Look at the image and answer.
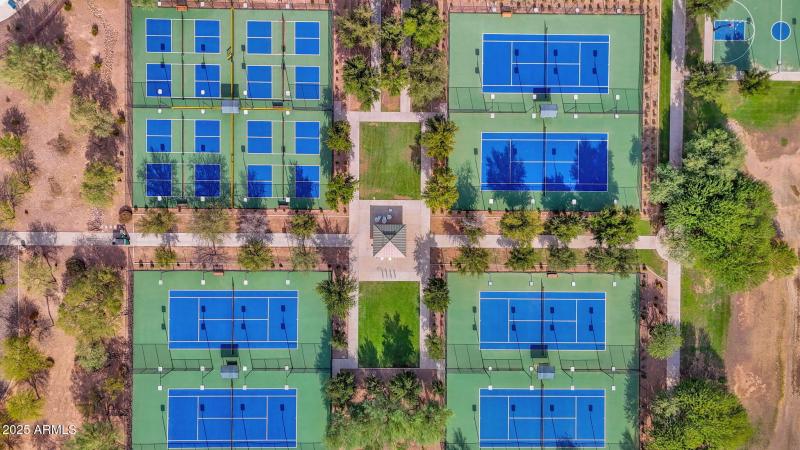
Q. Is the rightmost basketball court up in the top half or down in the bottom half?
top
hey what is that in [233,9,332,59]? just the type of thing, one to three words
sports court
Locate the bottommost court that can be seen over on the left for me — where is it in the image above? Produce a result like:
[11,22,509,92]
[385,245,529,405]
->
[133,369,330,450]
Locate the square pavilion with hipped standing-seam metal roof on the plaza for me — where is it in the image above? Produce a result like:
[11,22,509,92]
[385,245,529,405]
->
[373,224,406,257]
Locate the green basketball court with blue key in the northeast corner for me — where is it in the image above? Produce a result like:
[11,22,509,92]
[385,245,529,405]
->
[713,0,800,72]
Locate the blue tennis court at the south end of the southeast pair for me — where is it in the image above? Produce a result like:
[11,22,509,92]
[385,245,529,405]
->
[446,369,638,450]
